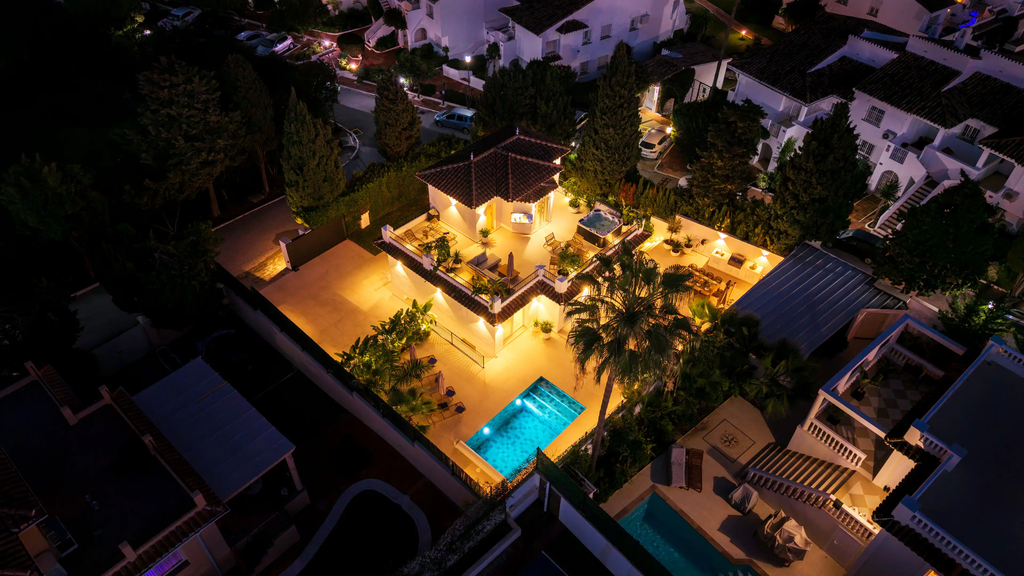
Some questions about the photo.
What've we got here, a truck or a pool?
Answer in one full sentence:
Visible in the photo is a pool.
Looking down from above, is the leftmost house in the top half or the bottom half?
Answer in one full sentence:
Seen from above, the leftmost house lies in the bottom half of the view.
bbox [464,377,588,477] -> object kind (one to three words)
swimming pool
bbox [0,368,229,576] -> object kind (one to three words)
house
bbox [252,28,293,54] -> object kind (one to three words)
car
